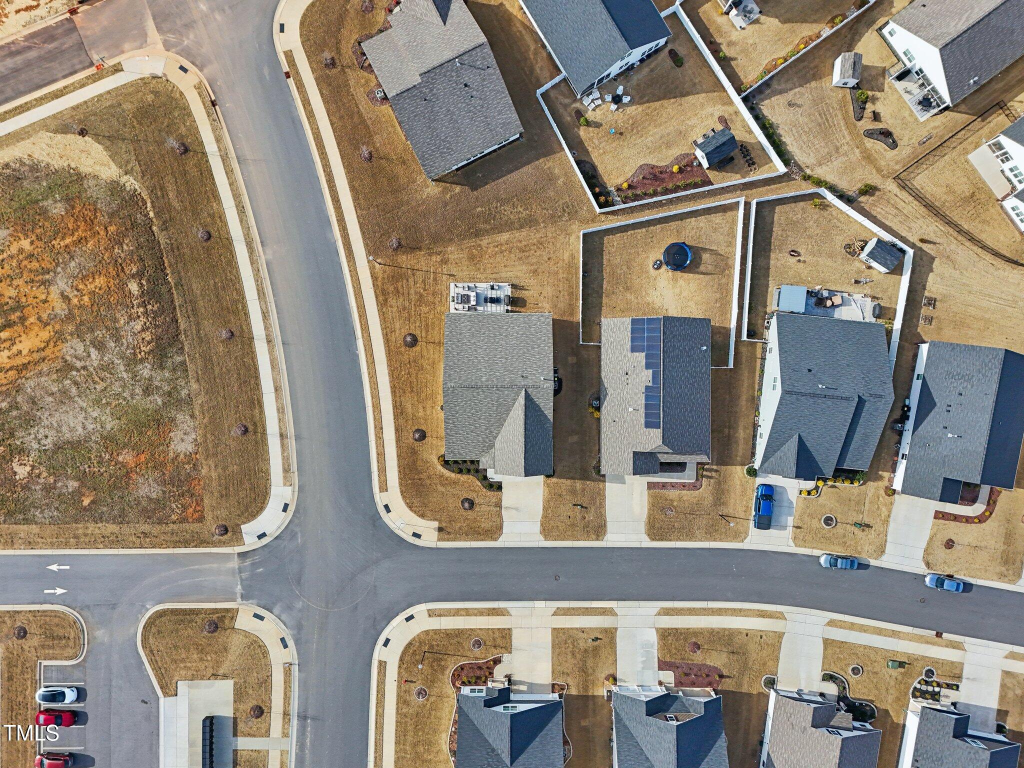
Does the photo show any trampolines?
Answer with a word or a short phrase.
Yes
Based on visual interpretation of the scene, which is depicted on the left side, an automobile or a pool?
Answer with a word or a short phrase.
automobile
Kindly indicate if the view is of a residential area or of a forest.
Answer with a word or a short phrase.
residential area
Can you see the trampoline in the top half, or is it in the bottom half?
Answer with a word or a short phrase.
top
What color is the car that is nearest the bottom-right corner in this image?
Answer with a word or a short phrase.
blue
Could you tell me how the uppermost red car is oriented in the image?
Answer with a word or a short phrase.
horizontally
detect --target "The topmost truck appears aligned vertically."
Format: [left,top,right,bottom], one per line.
[752,483,775,531]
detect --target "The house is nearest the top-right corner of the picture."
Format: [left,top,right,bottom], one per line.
[882,0,1024,109]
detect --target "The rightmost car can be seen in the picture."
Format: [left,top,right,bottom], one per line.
[923,572,964,593]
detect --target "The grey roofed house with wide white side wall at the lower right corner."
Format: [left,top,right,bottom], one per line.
[901,699,1021,768]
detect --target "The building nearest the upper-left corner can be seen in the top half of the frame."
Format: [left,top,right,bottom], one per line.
[361,0,524,180]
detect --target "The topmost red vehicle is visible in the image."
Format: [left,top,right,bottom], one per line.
[37,708,78,729]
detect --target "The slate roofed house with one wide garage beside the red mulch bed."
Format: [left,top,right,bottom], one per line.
[456,679,564,768]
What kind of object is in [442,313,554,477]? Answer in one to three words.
house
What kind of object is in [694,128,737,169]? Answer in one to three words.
shed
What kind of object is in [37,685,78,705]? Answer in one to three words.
car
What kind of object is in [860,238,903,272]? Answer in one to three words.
shed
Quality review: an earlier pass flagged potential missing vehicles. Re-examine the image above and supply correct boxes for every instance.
[818,552,858,571]
[752,483,775,531]
[37,708,78,729]
[923,572,964,593]
[37,685,78,705]
[38,752,77,768]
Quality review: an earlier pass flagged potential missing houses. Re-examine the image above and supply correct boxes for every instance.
[361,0,524,180]
[882,0,1024,109]
[901,699,1021,768]
[612,683,729,768]
[987,114,1024,232]
[759,687,882,768]
[442,313,554,477]
[754,312,894,481]
[893,341,1024,504]
[520,0,672,100]
[600,316,711,476]
[456,679,564,768]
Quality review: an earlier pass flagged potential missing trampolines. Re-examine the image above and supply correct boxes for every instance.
[662,241,693,271]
